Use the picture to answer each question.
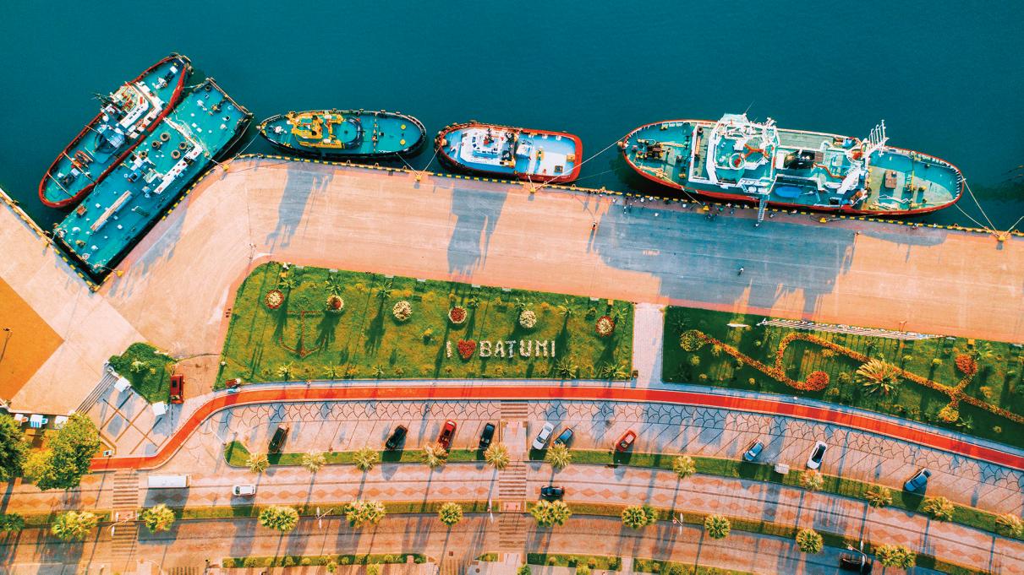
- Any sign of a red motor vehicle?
Yes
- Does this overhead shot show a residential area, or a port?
port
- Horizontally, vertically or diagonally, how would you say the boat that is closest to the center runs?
horizontally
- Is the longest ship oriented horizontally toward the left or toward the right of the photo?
right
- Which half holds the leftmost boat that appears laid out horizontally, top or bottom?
top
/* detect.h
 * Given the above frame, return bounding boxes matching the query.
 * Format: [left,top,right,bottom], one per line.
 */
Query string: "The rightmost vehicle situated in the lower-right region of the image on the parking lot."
[902,469,931,493]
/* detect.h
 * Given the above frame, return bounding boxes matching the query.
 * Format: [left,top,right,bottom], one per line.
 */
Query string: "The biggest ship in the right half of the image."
[615,90,965,214]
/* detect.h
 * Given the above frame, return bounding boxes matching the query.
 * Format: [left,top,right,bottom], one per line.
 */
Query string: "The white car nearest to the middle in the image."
[532,422,554,451]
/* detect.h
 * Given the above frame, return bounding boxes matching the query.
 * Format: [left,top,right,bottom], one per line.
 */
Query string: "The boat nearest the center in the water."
[435,121,583,184]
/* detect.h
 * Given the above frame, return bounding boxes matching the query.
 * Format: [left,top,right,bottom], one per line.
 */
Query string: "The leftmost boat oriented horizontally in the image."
[257,108,427,161]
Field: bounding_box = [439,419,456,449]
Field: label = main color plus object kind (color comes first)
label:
red car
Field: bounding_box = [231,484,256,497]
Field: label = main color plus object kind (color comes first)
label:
white vehicle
